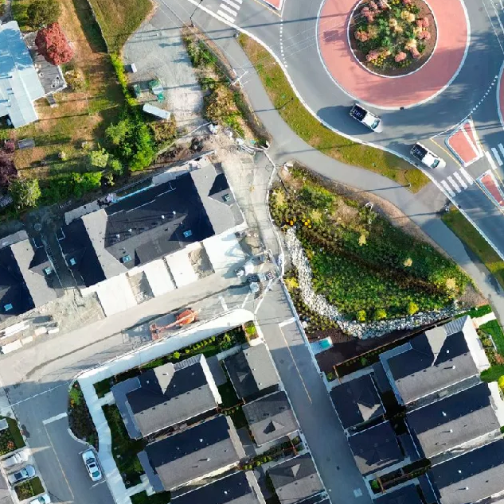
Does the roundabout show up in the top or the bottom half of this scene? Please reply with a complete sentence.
It is in the top half that the roundabout appears.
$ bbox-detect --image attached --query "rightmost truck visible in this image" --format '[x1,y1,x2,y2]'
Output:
[409,141,445,169]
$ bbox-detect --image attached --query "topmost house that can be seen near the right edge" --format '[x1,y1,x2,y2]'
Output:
[377,313,491,405]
